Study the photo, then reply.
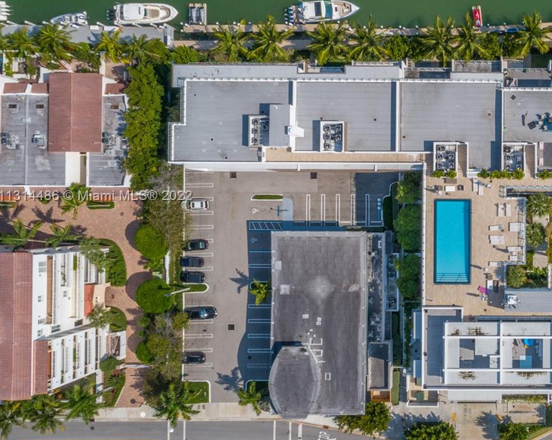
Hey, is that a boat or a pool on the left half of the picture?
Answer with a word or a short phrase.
boat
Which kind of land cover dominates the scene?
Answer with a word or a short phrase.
buildings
